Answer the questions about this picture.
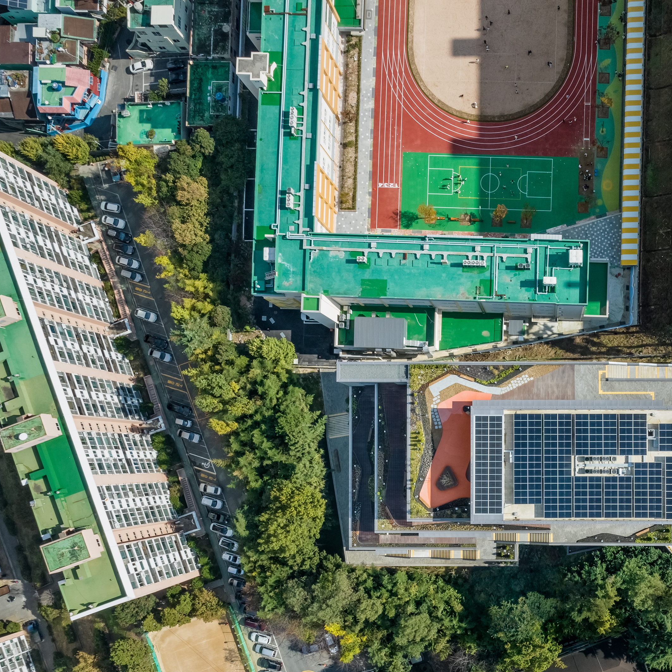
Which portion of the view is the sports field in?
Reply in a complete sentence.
The sports field sits in the top right section of the image.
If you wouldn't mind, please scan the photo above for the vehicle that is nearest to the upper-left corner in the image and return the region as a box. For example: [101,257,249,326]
[128,58,155,75]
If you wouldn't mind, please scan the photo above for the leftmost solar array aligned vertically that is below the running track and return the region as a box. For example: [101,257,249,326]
[476,416,503,513]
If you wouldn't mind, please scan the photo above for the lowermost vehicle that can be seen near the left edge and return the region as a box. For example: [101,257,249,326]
[26,619,41,644]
